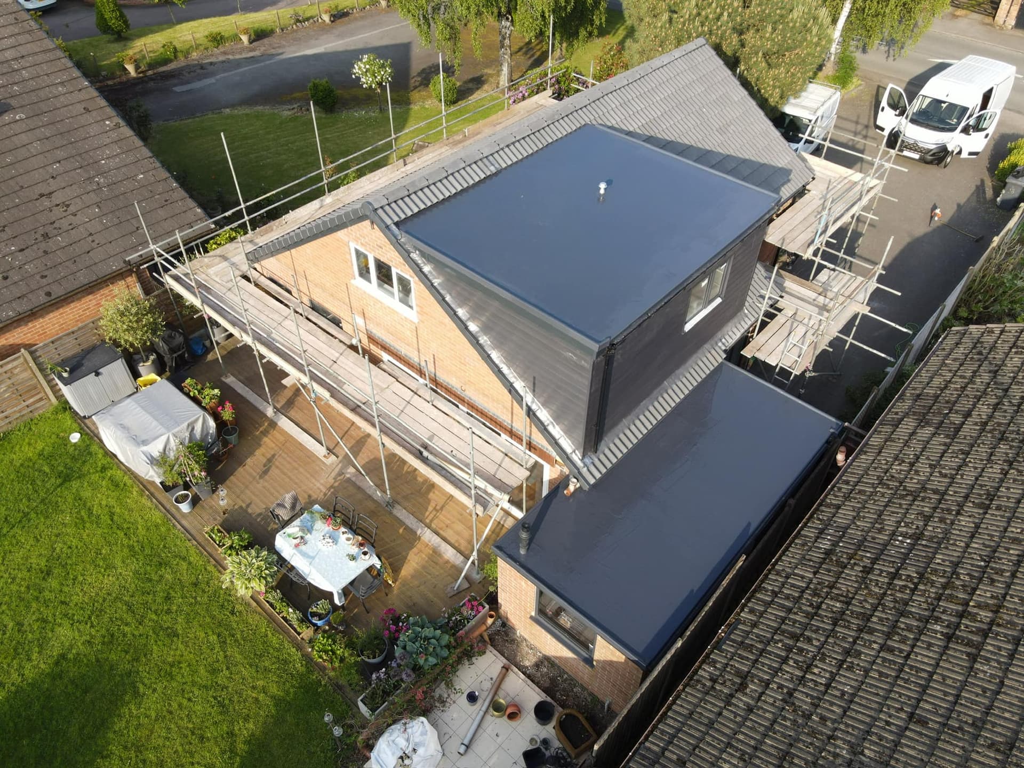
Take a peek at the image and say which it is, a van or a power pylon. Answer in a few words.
van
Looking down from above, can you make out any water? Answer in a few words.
No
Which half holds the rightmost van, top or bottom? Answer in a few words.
top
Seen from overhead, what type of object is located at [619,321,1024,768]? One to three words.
house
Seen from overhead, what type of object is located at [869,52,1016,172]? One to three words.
van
